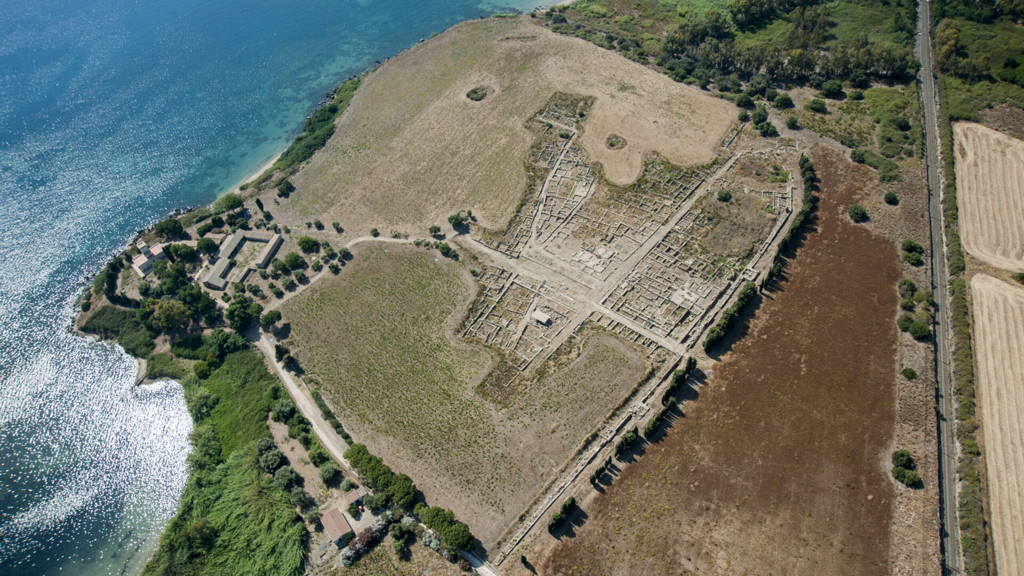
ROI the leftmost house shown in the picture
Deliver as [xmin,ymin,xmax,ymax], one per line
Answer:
[132,241,167,278]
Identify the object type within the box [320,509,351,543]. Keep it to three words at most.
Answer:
house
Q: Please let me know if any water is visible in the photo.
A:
Yes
